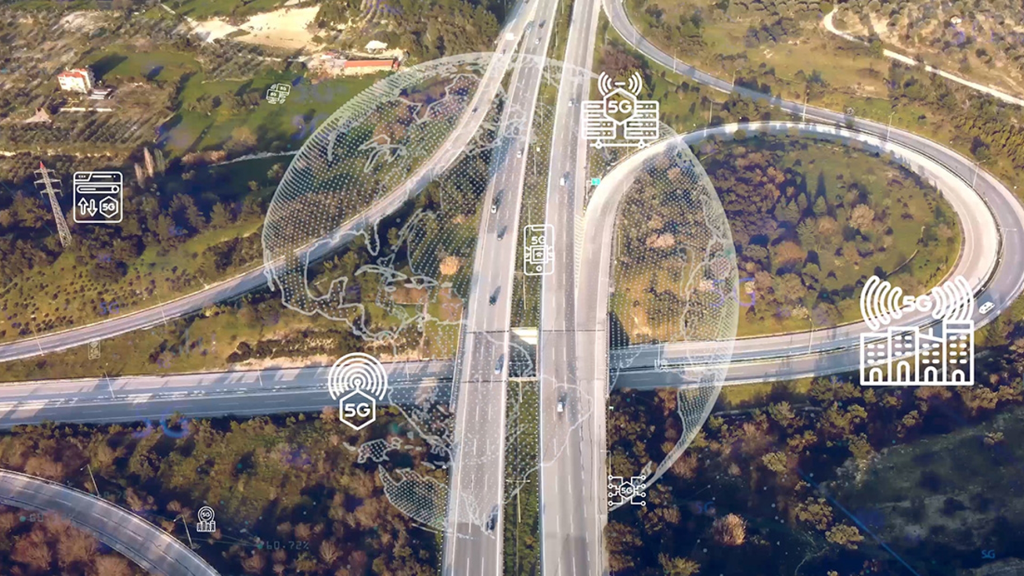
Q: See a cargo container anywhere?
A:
No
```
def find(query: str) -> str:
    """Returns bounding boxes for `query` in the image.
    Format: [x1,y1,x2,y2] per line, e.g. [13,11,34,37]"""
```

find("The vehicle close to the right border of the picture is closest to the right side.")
[980,298,995,311]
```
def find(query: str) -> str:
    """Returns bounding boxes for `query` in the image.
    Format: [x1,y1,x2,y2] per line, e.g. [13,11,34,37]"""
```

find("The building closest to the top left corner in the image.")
[58,61,102,92]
